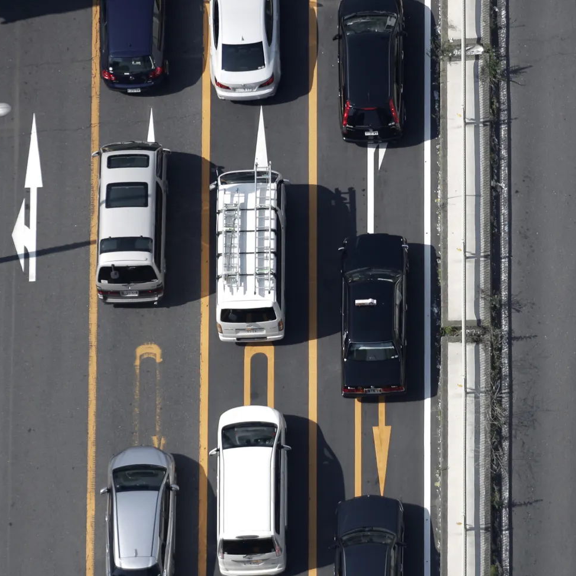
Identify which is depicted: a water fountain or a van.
van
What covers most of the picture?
paved ground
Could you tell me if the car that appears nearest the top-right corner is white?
No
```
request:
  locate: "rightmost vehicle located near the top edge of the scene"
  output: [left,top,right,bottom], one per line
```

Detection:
[330,0,410,143]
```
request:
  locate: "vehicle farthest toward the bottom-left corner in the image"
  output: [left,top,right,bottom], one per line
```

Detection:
[100,447,182,576]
